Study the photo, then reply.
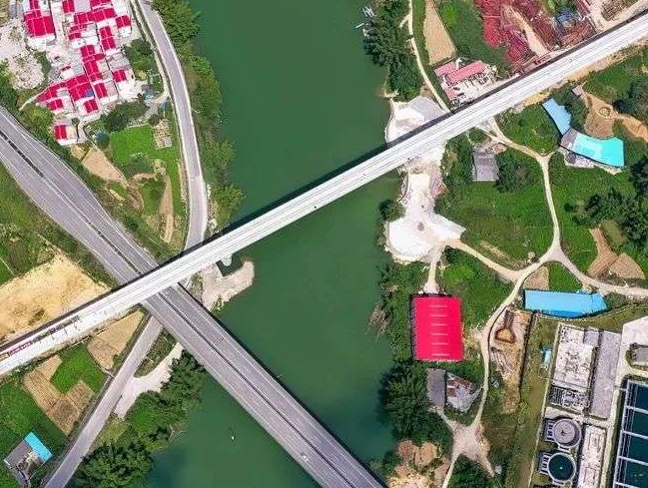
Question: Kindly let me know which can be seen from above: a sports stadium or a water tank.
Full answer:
Looking from above, you can make out a water tank.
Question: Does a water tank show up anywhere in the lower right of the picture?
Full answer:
Yes, you'll find a water tank in the lower right of the picture.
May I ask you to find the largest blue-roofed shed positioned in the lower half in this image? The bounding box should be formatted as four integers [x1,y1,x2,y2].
[521,288,595,316]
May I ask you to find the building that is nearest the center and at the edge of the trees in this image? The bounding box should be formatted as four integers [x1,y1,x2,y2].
[409,293,463,360]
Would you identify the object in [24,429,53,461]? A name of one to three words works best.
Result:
house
